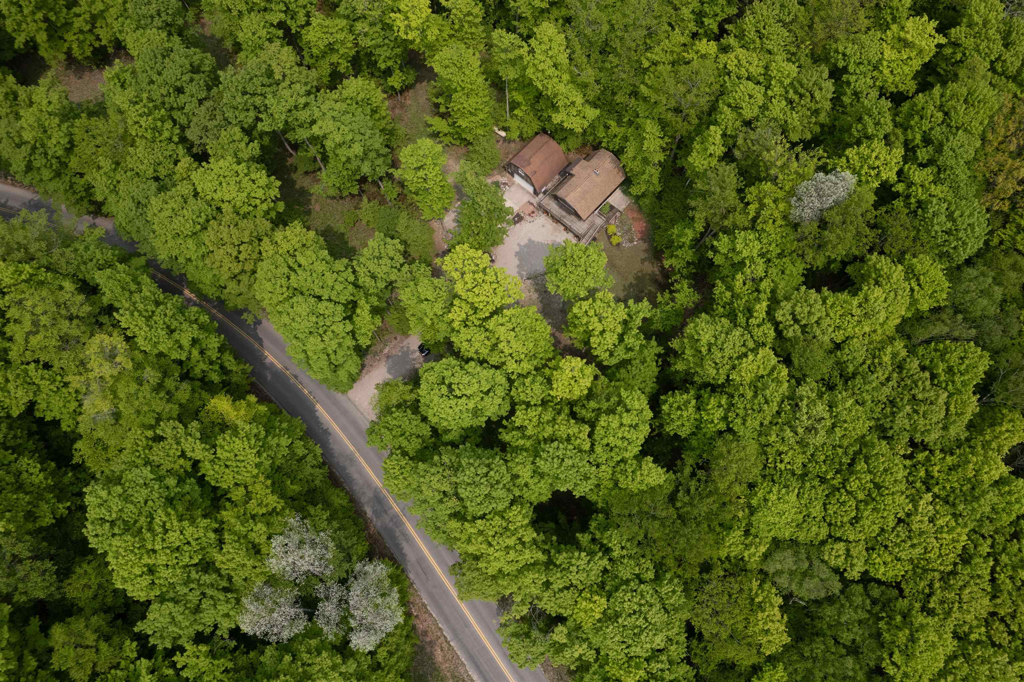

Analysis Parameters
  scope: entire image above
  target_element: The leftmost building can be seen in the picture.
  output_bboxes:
[505,132,569,198]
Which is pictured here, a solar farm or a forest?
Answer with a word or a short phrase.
forest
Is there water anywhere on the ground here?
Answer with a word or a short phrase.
No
